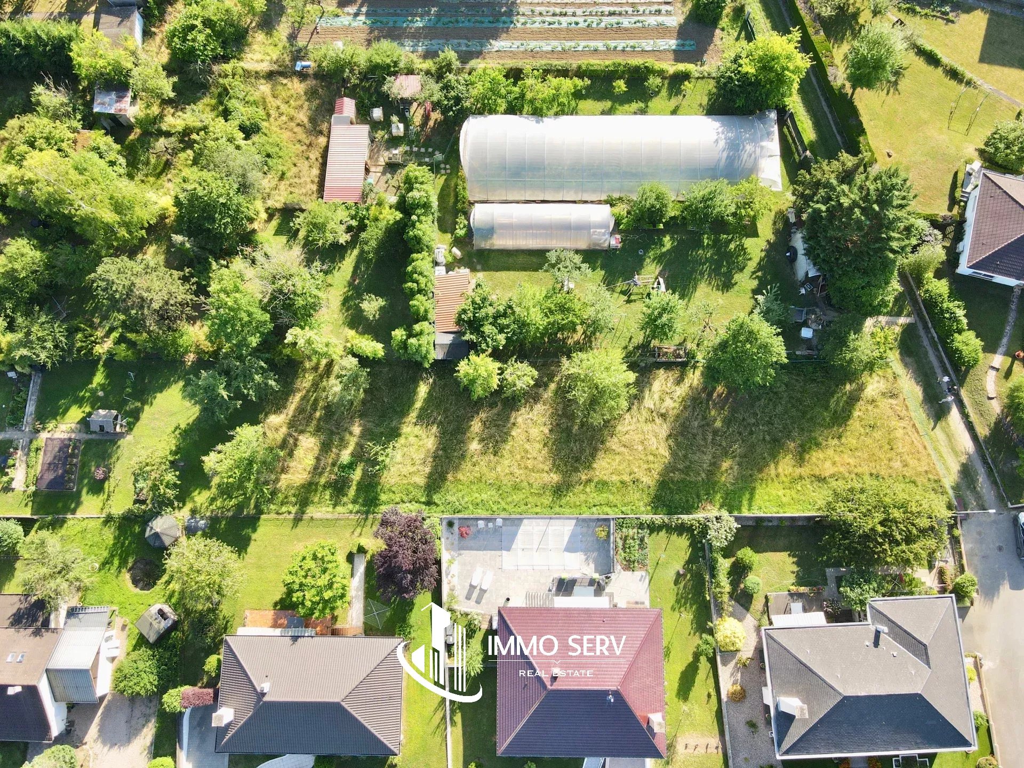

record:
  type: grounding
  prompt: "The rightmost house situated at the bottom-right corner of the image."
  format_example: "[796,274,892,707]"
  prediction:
[755,590,982,763]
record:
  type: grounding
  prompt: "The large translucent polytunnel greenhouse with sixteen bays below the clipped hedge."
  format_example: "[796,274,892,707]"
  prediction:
[461,110,782,201]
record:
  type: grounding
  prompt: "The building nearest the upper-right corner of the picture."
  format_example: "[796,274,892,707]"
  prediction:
[949,168,1024,297]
